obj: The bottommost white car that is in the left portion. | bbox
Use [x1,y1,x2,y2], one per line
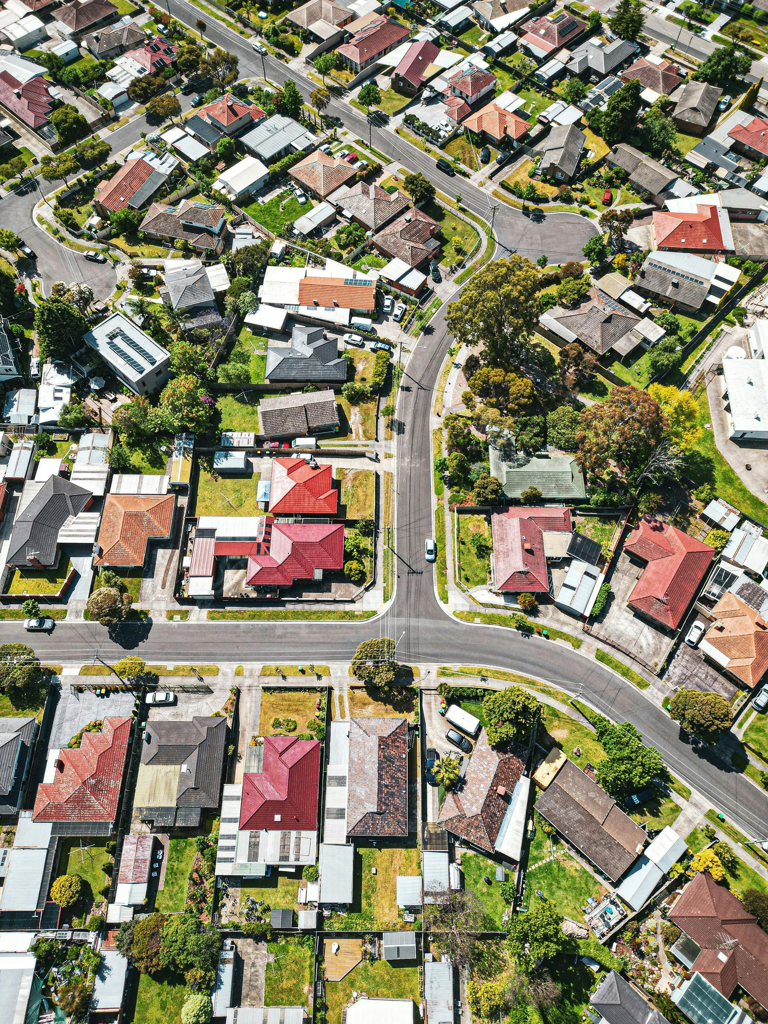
[145,690,175,704]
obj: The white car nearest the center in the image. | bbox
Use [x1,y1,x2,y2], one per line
[424,538,436,562]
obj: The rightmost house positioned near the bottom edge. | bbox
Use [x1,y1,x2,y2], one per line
[666,872,768,1024]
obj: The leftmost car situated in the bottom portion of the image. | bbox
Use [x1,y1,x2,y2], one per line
[23,617,54,630]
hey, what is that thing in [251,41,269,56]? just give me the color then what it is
white car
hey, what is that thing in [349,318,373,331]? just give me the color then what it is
white vehicle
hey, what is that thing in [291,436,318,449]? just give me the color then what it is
white vehicle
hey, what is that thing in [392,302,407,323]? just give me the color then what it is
white car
